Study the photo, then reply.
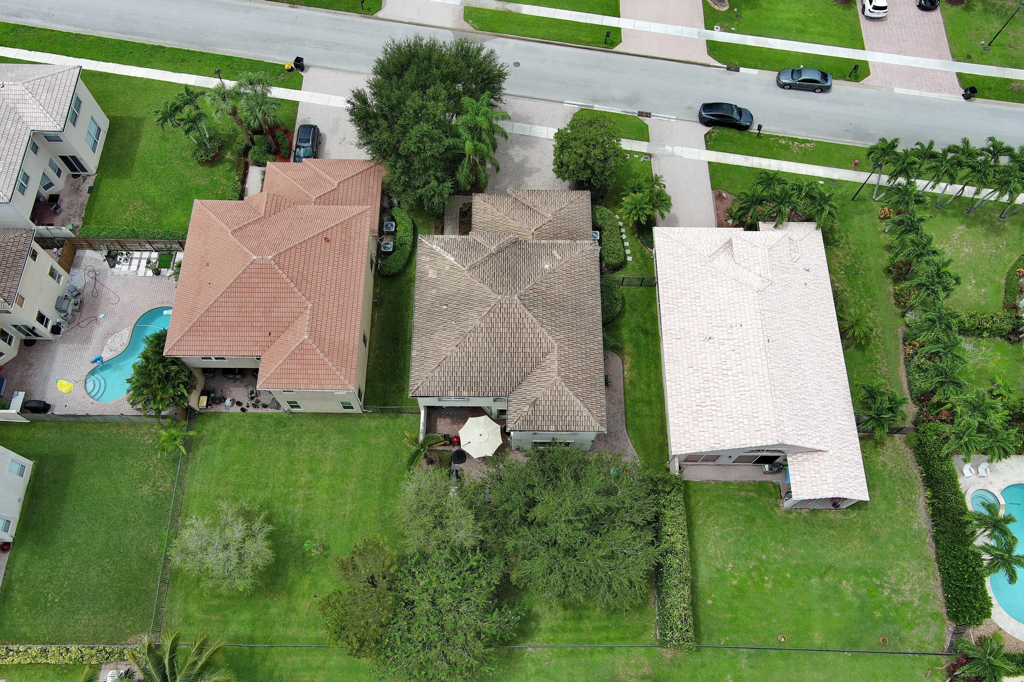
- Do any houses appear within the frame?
Yes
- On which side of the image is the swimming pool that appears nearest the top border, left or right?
left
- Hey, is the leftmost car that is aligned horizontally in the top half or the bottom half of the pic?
top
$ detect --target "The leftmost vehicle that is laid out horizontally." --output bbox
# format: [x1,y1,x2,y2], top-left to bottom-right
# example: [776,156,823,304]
[700,102,755,130]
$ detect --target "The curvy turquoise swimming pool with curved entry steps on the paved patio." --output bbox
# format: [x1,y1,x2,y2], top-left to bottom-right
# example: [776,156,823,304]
[72,303,172,406]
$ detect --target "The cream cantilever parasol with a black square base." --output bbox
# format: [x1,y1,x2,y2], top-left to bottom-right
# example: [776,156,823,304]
[450,415,502,466]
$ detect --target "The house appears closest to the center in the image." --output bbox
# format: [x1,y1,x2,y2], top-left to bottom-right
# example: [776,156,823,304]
[408,188,609,452]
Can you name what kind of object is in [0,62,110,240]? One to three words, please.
house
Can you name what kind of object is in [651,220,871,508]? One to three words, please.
house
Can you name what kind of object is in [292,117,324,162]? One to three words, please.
car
